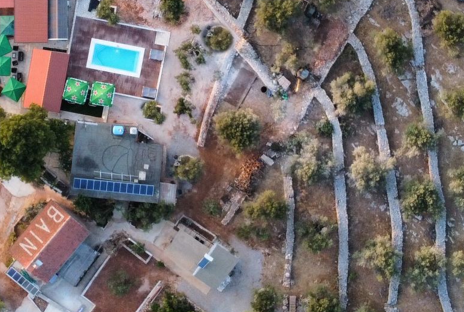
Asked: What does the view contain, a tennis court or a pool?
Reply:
pool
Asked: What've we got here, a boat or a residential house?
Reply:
residential house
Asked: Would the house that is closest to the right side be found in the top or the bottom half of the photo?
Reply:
bottom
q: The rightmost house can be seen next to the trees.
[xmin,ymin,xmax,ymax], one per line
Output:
[157,214,240,294]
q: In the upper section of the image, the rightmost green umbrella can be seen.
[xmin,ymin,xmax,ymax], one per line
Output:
[90,82,115,108]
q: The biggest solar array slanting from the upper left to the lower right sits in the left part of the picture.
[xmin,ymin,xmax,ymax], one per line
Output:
[6,265,40,296]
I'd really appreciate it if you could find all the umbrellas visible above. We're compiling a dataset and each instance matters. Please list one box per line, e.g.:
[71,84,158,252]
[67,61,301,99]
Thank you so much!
[0,58,12,76]
[0,35,12,54]
[2,78,26,100]
[90,82,115,108]
[64,78,89,106]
